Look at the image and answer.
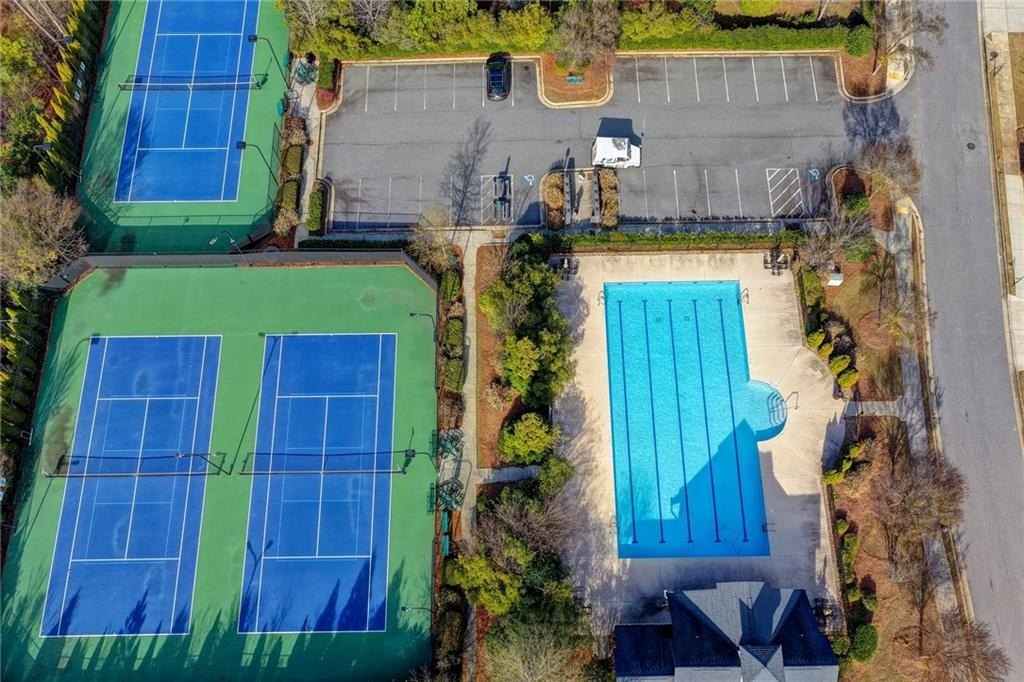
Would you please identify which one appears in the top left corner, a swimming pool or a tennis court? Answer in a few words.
tennis court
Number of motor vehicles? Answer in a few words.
2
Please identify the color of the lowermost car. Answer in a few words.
white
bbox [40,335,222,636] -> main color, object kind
blue tennis court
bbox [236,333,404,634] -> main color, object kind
blue tennis court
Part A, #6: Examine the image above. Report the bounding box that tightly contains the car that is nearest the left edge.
[486,53,511,99]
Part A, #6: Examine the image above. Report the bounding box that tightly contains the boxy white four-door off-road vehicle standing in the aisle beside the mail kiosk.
[592,140,641,168]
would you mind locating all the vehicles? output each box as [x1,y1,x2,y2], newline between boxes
[592,140,641,168]
[486,53,511,99]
